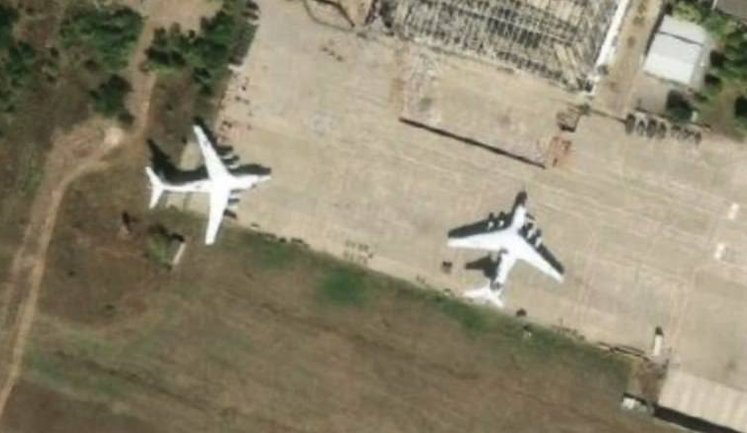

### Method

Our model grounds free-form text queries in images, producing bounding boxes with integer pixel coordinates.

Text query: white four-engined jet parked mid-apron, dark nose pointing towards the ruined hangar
[445,197,562,308]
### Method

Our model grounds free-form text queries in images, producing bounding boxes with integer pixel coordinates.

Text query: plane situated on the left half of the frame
[150,127,272,245]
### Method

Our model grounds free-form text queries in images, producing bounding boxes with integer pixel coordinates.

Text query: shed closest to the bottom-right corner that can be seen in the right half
[656,370,747,433]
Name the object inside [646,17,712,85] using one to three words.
house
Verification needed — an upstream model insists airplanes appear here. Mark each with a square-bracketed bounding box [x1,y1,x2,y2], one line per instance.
[150,127,272,245]
[445,197,562,308]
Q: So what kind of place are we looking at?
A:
airport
